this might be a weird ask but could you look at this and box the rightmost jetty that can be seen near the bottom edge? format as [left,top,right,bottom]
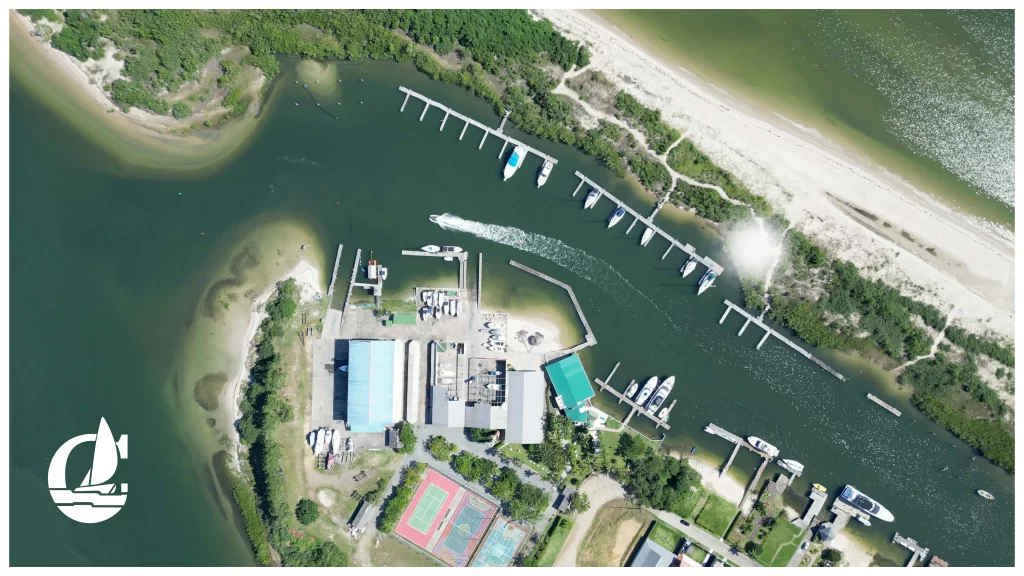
[891,532,929,573]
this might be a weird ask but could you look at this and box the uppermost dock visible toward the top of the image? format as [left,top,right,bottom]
[399,86,558,169]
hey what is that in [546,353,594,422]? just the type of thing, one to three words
building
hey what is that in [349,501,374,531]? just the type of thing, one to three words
shed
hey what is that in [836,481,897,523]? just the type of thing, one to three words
boat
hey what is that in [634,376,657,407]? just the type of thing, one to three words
boat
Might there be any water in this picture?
Yes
